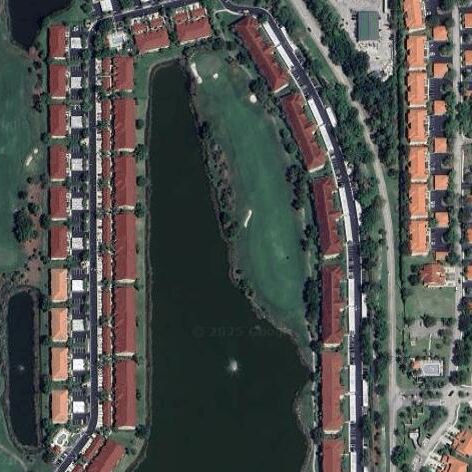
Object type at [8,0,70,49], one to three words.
pond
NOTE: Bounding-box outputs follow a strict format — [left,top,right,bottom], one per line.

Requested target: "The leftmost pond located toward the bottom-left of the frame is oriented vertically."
[8,294,39,448]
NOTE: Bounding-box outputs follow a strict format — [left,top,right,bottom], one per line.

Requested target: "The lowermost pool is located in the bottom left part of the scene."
[51,427,73,450]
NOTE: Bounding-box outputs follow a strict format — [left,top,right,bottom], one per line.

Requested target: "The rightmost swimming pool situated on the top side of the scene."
[109,32,128,49]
